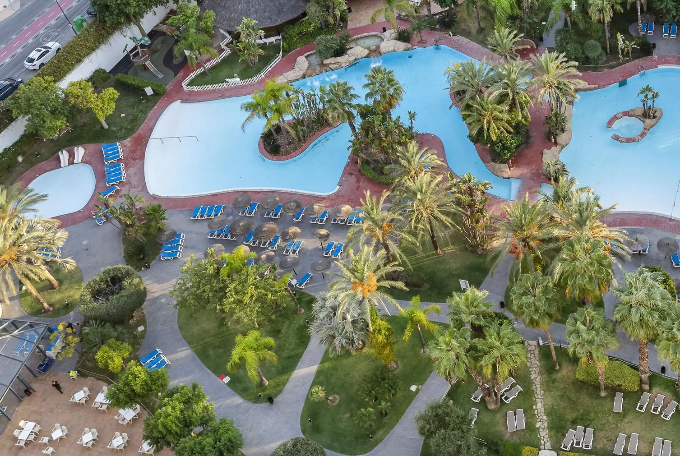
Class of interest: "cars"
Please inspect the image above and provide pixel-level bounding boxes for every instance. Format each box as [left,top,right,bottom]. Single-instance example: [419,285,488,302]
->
[0,79,24,102]
[79,0,105,20]
[22,43,62,68]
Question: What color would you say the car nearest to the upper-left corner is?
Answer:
white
